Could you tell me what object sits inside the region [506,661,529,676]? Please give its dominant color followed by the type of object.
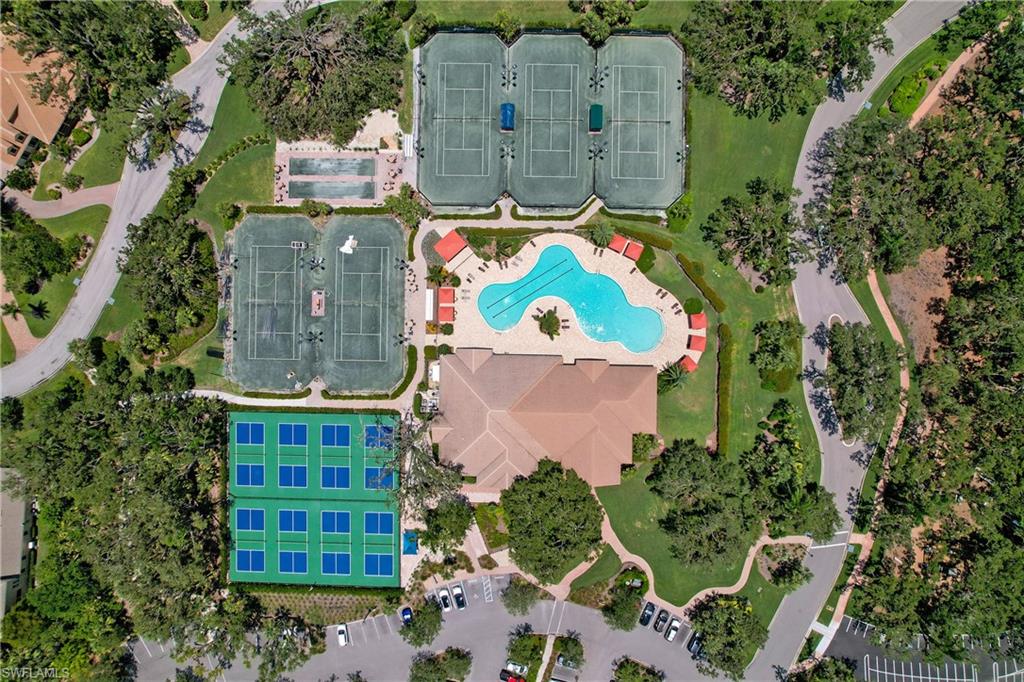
white car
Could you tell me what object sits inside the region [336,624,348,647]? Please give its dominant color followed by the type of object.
white vehicle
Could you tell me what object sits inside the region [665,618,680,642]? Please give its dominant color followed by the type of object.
white car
